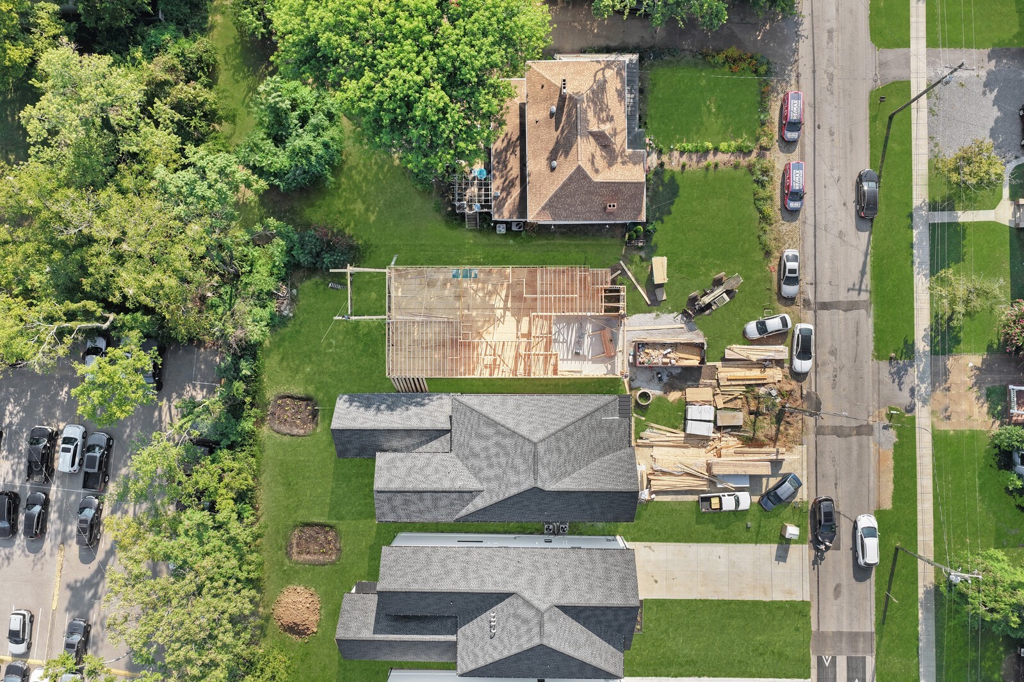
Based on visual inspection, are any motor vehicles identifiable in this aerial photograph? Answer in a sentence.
Yes, this view includes a motor vehicle.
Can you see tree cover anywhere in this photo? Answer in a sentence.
Yes, the picture does contain tree cover.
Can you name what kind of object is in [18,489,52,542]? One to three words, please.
car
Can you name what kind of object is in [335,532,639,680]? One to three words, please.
house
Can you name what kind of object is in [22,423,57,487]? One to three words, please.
truck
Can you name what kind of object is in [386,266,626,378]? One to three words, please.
house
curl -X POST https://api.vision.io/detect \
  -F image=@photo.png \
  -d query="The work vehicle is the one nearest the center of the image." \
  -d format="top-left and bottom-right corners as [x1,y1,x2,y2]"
[670,272,748,329]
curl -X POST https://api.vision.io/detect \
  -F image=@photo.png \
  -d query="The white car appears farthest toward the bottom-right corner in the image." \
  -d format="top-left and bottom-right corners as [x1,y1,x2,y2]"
[850,513,881,569]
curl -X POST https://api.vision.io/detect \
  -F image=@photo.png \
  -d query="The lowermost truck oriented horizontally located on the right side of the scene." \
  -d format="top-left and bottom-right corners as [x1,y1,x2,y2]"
[695,490,751,515]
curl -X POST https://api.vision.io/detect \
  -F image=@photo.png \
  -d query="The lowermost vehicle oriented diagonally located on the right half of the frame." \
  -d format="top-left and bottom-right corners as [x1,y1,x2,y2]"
[755,469,803,513]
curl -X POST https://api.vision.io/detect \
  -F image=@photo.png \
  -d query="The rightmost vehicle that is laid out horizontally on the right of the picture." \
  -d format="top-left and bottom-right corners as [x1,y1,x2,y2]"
[740,313,793,341]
